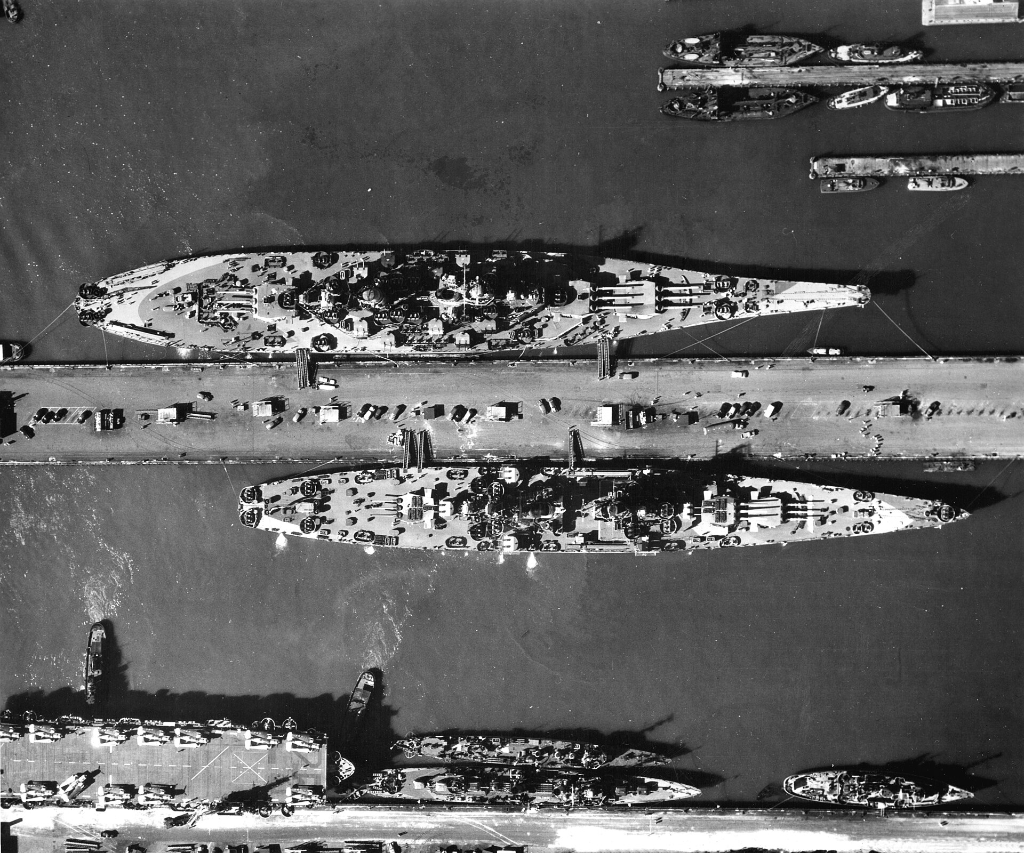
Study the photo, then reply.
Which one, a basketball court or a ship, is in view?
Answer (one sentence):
The one in the frame is a ship.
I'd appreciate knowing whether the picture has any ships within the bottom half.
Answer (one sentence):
Yes, there is a ship within the bottom half.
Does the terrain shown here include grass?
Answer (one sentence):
No, there is no grass in the image.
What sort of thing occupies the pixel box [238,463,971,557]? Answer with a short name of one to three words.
boat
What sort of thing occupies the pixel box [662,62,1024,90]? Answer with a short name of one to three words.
pier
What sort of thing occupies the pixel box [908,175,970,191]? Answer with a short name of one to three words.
boat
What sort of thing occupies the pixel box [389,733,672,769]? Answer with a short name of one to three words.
ship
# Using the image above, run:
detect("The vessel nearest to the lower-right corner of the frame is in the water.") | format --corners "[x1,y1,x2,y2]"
[782,764,975,809]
